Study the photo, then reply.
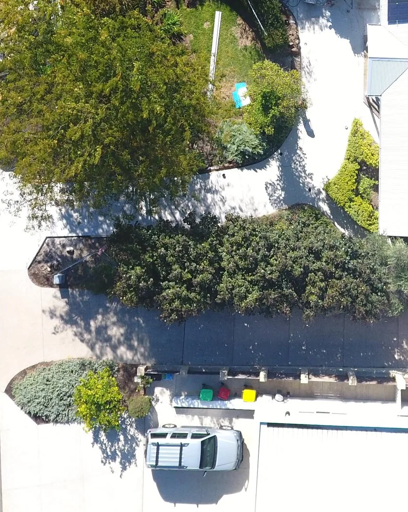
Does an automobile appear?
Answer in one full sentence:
Yes, the image includes an automobile.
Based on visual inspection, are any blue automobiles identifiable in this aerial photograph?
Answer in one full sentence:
No, there appears to be no blue automobile in this shot.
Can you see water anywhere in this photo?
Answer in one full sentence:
No, no water is visible.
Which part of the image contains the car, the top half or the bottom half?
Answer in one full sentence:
The bottom half of the photo is where the car is.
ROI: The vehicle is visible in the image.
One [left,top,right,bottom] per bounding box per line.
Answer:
[146,419,250,474]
